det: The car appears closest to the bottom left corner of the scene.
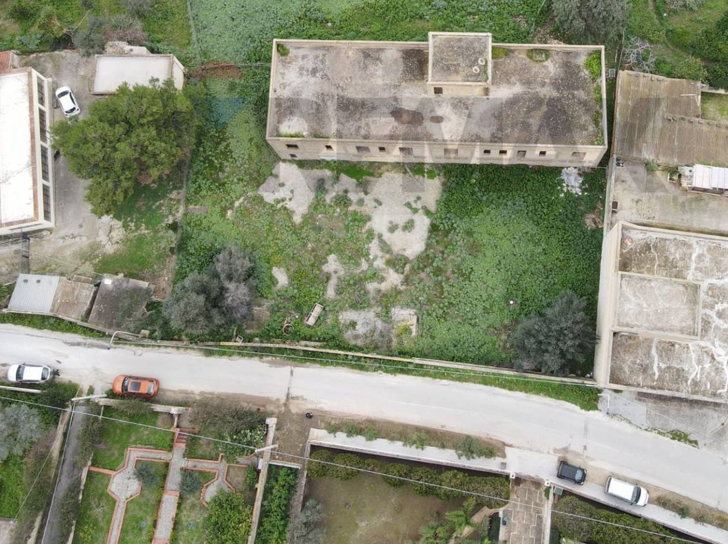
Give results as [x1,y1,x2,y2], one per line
[6,361,55,385]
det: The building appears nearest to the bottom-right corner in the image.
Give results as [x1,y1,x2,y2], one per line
[595,222,728,405]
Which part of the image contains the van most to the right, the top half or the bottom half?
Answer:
bottom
